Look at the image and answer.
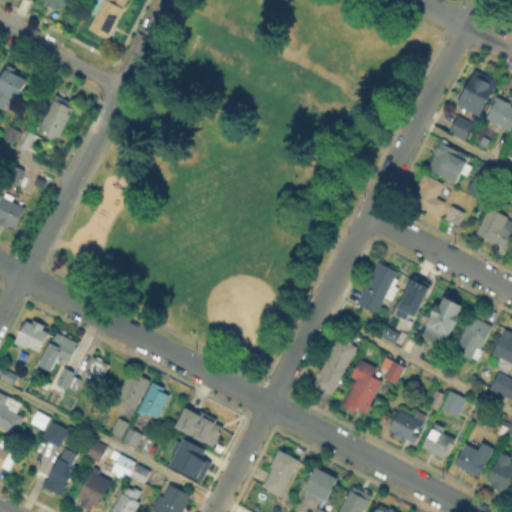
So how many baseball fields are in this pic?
1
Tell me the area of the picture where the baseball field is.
center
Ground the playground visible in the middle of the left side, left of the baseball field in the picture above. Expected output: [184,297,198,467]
[62,176,127,261]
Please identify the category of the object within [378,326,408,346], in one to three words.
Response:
building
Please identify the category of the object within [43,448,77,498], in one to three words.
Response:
house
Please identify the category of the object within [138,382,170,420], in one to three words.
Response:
house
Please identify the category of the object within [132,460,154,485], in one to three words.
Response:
building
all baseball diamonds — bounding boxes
[139,224,289,360]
